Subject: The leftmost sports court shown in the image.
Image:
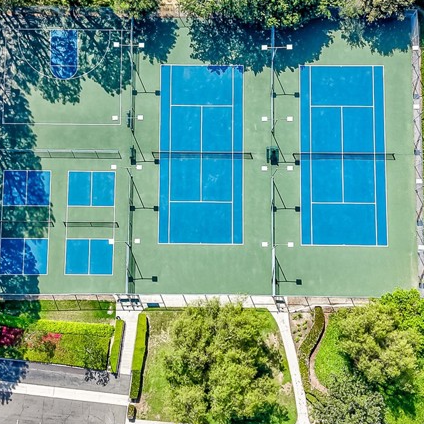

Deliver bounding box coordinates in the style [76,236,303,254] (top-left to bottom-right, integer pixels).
[0,171,51,275]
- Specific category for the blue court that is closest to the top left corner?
basketball court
